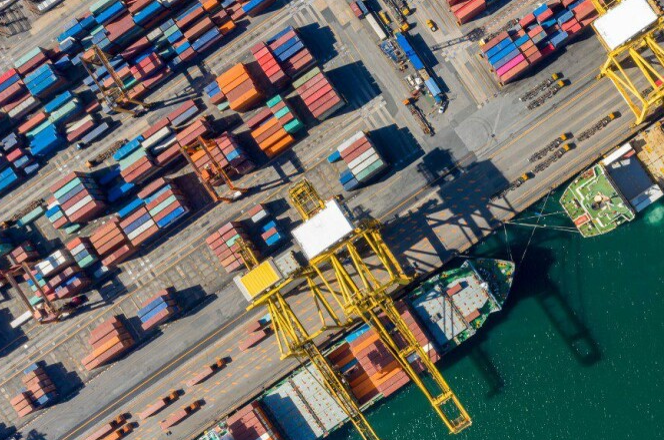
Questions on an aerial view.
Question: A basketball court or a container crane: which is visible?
container crane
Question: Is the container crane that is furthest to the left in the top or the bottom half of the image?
bottom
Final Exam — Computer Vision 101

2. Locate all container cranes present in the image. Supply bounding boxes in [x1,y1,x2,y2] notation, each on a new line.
[277,174,476,440]
[178,136,250,205]
[585,0,664,134]
[1,260,82,323]
[75,44,153,118]
[234,245,392,440]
